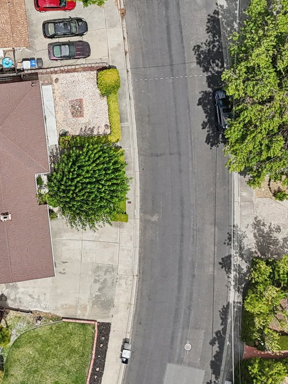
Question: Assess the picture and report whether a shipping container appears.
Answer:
No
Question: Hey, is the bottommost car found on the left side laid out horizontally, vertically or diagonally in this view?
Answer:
horizontally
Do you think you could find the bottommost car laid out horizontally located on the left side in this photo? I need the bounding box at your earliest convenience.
[47,39,91,61]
